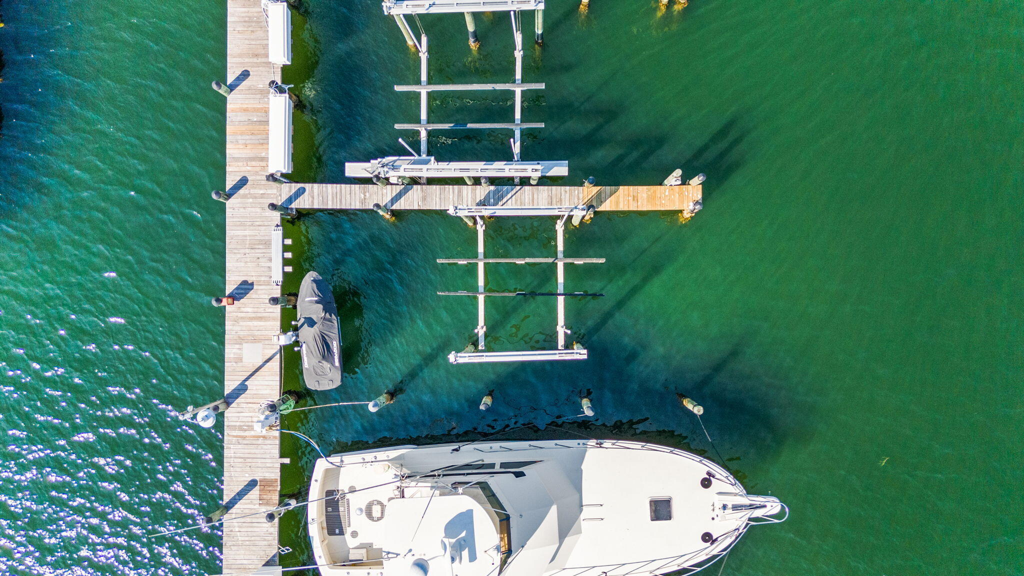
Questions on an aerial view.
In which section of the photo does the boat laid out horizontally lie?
bottom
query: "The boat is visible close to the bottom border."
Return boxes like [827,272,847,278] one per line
[150,437,792,576]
